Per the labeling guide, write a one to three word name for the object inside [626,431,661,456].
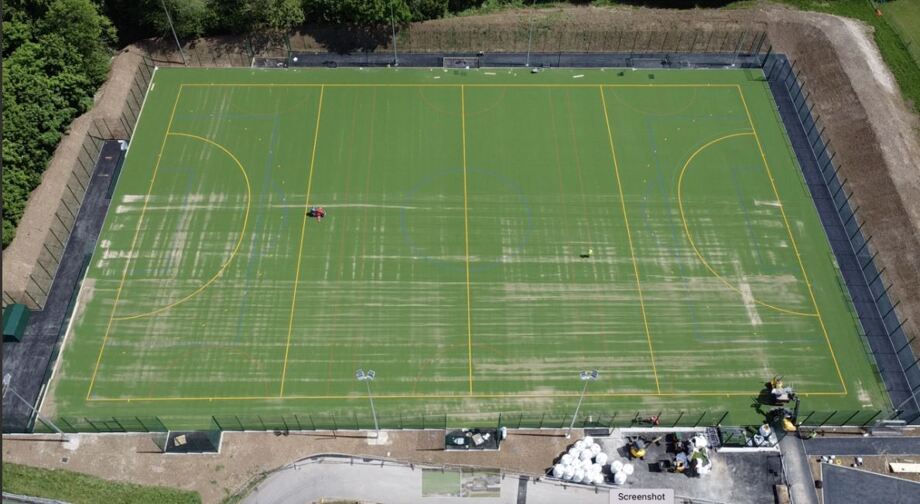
work vehicle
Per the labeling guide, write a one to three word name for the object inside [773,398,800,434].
work vehicle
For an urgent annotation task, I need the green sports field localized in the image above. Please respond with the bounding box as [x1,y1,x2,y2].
[34,67,898,431]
